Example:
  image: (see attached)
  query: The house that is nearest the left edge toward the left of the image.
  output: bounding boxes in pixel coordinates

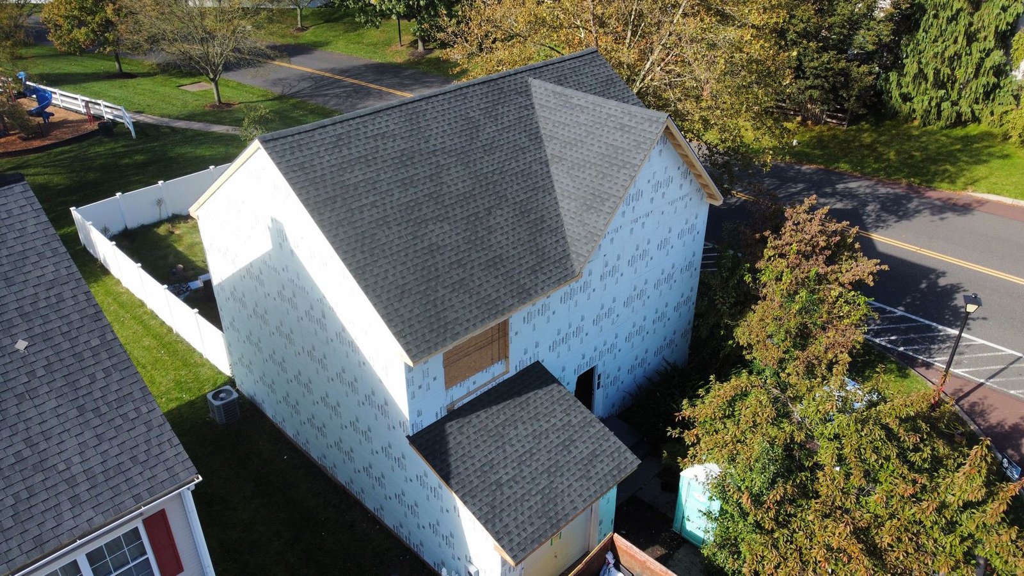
[0,174,215,576]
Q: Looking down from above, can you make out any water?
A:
No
